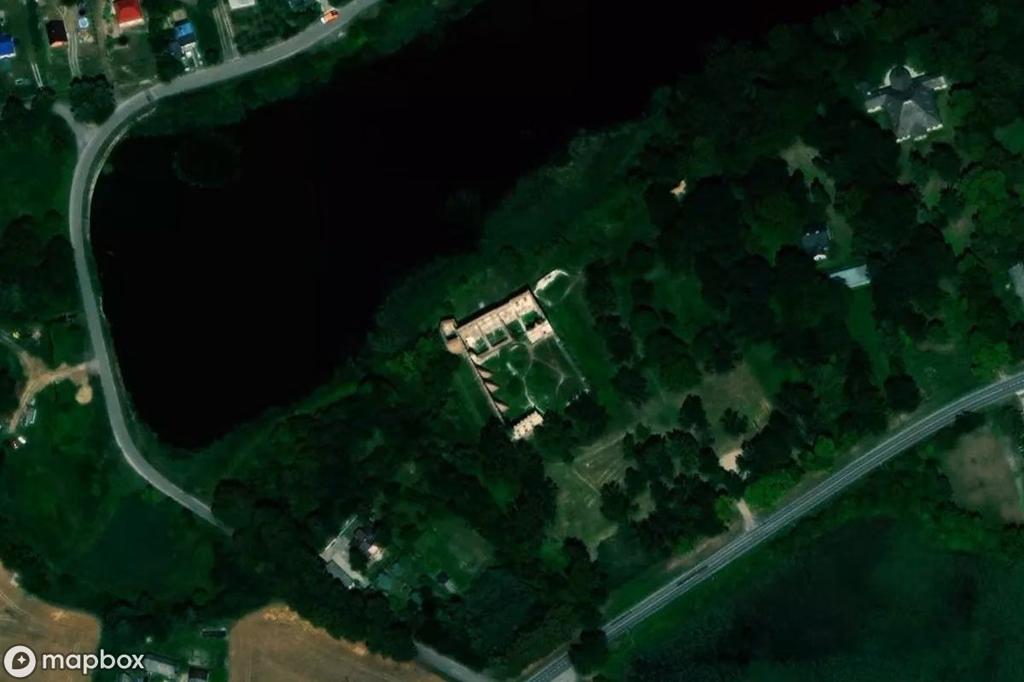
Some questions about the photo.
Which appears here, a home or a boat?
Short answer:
home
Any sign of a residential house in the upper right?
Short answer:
Yes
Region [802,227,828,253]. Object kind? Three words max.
house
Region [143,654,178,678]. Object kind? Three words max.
barn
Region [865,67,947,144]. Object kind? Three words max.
house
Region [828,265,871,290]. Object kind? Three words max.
barn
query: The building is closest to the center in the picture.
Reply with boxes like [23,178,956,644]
[442,289,555,429]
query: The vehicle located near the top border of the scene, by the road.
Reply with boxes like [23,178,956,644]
[321,10,339,22]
